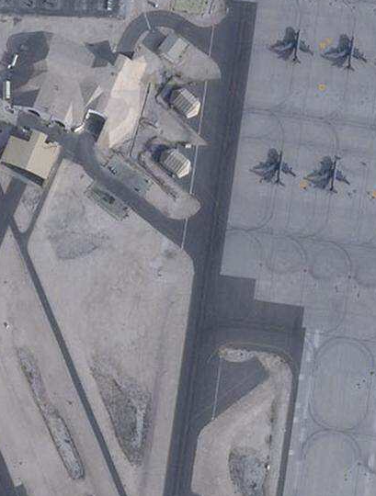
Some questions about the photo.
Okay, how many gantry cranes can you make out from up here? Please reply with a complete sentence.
I count no gantry cranes.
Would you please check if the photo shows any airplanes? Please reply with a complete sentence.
Yes, an airplane appears in the view.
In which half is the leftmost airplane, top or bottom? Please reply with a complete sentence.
It is in the top half that the leftmost airplane appears.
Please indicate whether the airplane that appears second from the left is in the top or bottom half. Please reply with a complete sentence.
The airplane that appears second from the left sits in the top half of the picture.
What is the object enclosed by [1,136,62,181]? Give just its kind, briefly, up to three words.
hangar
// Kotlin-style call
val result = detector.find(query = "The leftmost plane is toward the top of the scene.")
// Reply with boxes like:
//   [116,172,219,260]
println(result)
[261,152,296,183]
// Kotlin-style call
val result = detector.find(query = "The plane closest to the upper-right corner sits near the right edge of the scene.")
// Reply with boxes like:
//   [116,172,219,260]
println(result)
[333,36,368,68]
